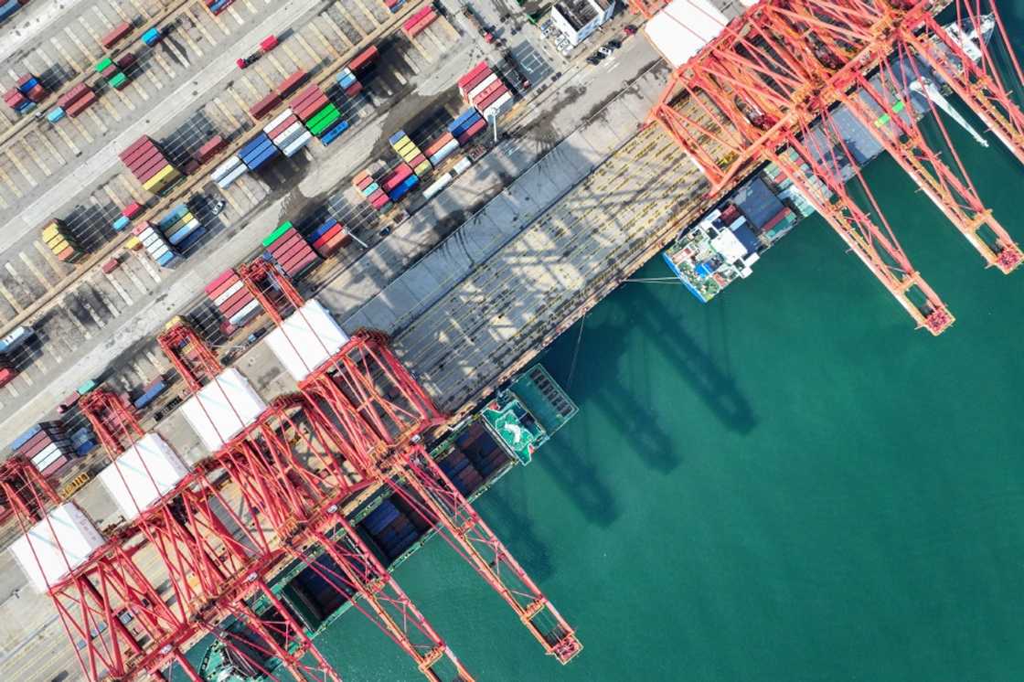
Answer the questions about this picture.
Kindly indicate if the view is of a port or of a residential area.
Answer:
port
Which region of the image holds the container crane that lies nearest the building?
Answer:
top right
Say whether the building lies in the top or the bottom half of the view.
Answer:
top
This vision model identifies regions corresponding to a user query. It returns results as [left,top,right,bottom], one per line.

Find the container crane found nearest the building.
[632,0,955,342]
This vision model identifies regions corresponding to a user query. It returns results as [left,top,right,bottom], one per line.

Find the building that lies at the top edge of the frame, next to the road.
[550,0,616,47]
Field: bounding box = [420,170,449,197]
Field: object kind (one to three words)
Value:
shipping container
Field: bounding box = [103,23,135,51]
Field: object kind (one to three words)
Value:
shipping container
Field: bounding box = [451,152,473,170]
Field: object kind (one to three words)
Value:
vehicle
